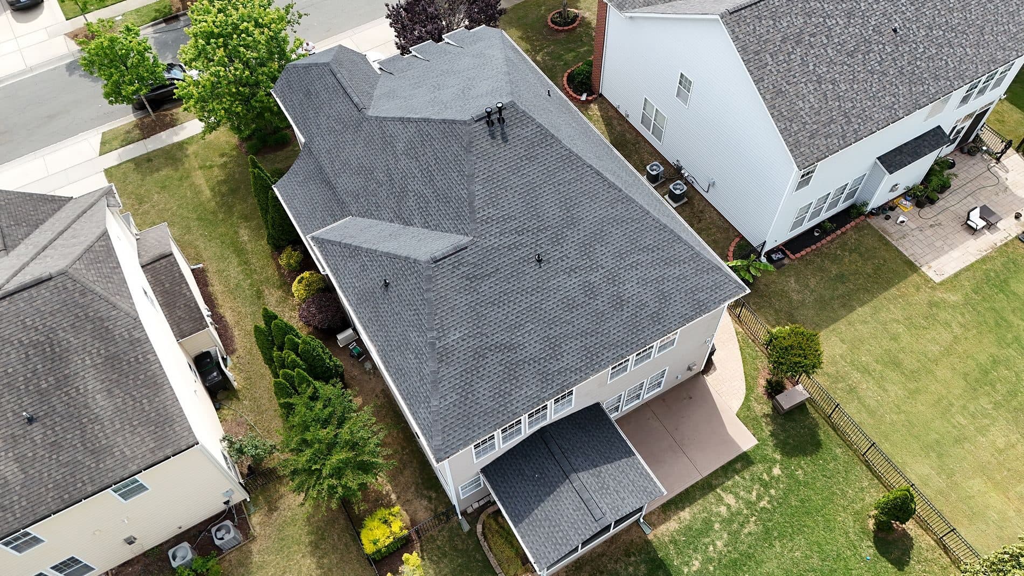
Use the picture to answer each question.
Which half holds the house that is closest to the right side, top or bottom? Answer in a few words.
top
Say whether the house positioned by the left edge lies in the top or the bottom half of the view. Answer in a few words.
bottom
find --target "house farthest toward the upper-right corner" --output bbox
[592,0,1024,257]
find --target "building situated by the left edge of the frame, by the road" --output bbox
[0,184,249,576]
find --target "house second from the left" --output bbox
[270,26,753,576]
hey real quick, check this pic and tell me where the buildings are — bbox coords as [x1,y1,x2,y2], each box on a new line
[0,184,249,576]
[270,26,753,576]
[592,0,1024,257]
